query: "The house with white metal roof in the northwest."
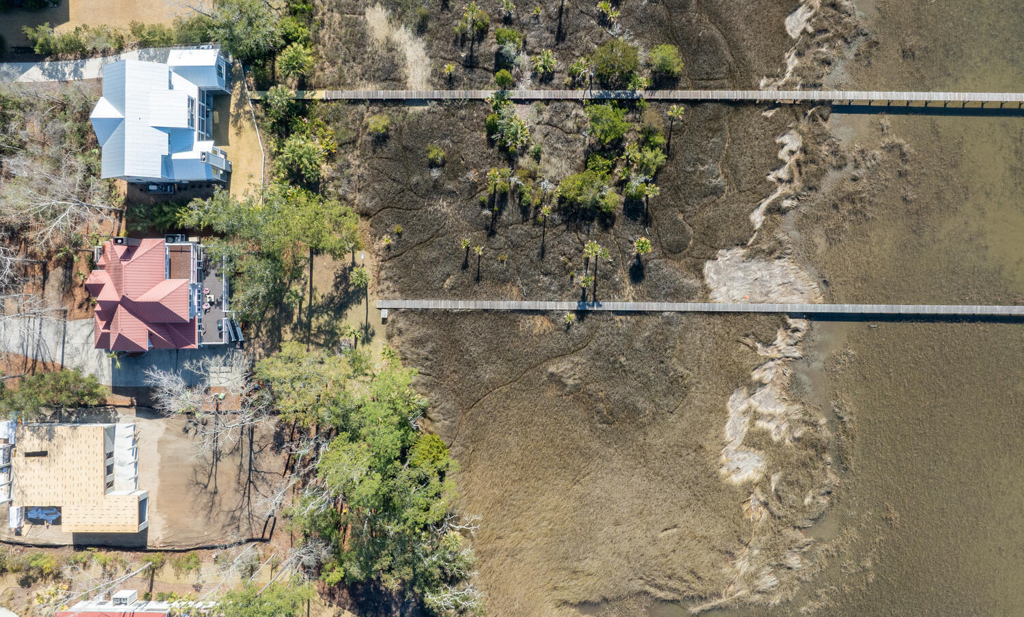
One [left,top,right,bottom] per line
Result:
[89,49,243,184]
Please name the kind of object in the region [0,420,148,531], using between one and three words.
house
